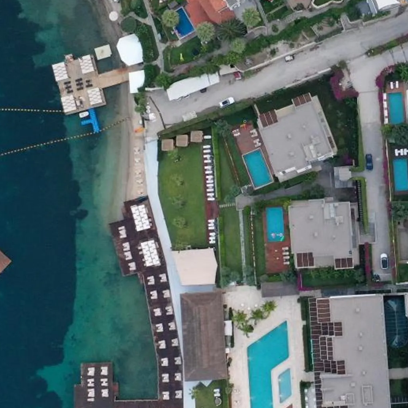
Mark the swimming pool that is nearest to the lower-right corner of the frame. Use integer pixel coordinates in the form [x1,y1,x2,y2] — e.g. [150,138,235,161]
[279,368,291,405]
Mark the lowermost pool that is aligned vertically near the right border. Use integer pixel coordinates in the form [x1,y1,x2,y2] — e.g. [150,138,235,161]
[392,157,408,192]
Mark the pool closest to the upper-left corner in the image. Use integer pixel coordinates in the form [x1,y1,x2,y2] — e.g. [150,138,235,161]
[171,6,195,40]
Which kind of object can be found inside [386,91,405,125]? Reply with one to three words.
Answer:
swimming pool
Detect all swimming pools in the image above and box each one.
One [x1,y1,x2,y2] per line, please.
[242,147,274,191]
[246,318,290,408]
[279,368,291,405]
[386,91,405,125]
[267,206,285,243]
[392,157,408,192]
[171,6,195,40]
